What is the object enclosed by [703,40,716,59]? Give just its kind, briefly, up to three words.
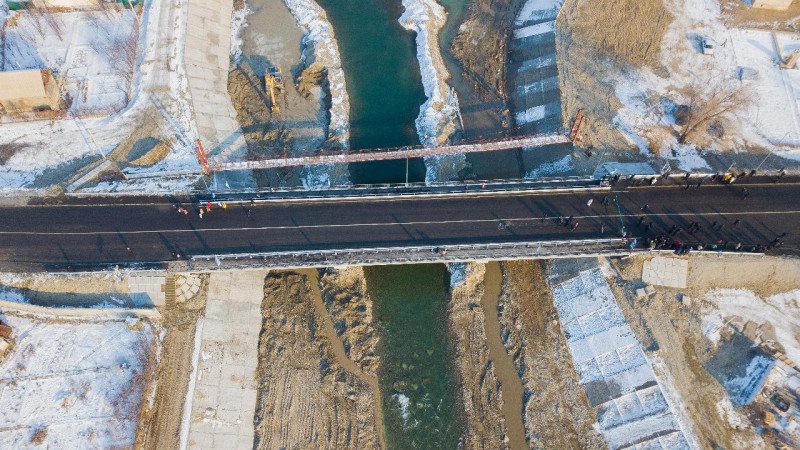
vehicle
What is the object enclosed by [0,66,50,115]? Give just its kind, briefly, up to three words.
house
